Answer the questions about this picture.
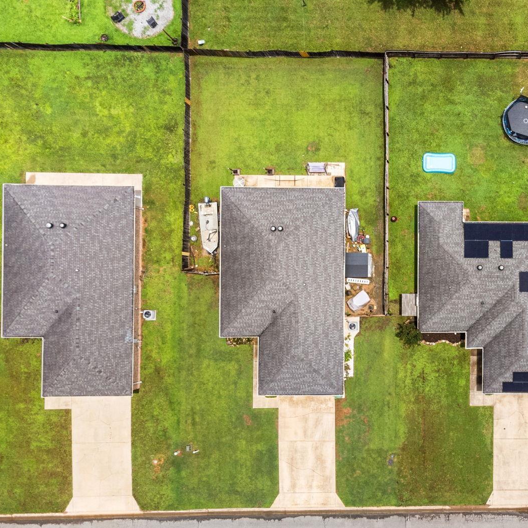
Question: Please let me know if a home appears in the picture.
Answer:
Yes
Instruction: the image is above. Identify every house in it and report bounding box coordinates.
[417,201,528,395]
[219,186,346,396]
[1,184,147,397]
